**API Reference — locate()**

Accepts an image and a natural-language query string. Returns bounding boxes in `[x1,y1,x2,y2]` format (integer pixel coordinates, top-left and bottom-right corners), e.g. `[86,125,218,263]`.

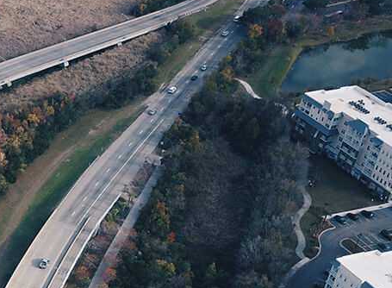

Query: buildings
[285,81,392,199]
[318,249,392,288]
